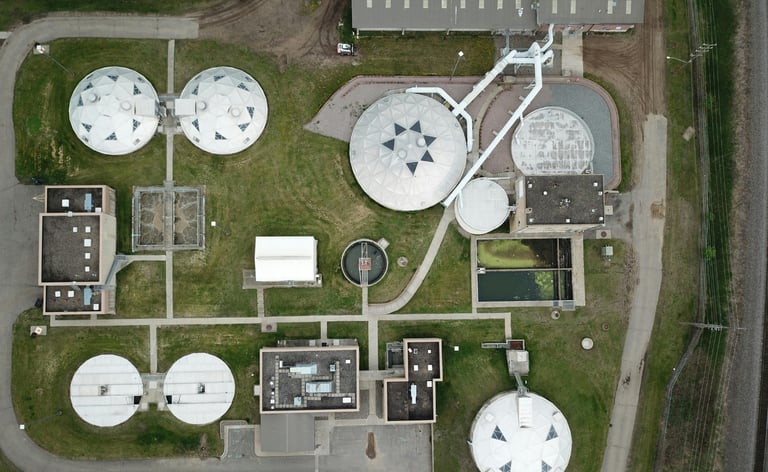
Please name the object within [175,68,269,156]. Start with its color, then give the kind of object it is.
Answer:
white storage tank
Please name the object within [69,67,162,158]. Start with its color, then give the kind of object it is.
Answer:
white storage tank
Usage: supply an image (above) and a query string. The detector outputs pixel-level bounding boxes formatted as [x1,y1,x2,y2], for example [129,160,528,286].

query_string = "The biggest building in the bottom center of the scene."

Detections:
[254,346,360,414]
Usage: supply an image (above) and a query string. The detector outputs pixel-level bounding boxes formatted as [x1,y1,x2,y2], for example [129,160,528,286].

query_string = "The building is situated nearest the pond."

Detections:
[508,176,604,231]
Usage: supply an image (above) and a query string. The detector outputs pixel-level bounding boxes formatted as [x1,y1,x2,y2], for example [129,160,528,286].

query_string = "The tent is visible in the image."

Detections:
[255,236,316,281]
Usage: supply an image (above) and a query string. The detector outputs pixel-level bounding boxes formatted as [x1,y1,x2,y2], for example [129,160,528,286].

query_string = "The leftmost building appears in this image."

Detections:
[38,185,118,315]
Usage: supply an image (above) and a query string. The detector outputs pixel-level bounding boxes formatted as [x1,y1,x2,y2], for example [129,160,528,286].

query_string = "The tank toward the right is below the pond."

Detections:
[467,390,572,472]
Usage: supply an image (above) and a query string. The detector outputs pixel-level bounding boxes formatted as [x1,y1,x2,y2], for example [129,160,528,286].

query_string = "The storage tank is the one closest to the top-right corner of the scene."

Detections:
[512,108,592,177]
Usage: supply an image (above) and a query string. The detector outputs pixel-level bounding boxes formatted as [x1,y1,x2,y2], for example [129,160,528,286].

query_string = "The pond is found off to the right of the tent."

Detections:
[470,234,586,310]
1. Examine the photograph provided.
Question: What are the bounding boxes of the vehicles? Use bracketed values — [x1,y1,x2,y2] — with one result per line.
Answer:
[336,44,354,56]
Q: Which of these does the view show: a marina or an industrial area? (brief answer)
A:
industrial area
